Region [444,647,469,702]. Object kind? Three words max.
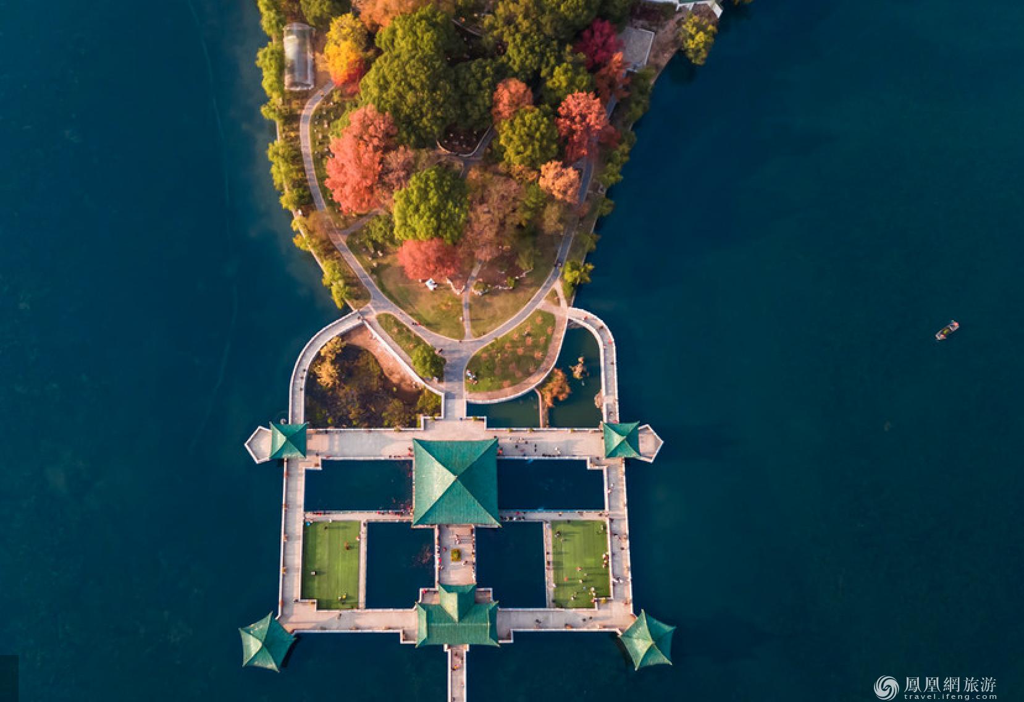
pier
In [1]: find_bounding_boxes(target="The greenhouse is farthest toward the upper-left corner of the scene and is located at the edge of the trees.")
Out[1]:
[284,18,315,92]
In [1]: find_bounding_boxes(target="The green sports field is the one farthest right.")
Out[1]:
[552,520,612,608]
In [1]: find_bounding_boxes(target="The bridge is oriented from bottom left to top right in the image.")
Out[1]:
[288,309,364,423]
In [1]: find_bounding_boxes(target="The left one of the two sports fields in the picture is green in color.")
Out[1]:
[300,521,360,609]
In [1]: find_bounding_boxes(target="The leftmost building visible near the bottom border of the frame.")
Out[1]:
[238,610,298,673]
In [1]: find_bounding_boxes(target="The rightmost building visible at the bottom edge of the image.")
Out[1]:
[619,607,678,672]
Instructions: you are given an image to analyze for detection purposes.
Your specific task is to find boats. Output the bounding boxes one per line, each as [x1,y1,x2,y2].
[936,322,960,340]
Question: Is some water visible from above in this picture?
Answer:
Yes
